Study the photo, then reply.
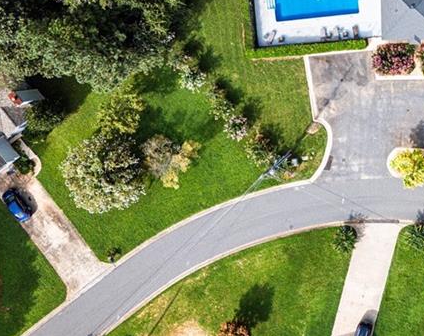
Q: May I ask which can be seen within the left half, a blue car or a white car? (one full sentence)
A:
You can see a blue car within the left half.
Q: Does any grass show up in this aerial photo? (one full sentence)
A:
Yes, some grass is visible.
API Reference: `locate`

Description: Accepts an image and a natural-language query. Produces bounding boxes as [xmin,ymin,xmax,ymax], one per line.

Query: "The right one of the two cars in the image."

[355,322,372,336]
